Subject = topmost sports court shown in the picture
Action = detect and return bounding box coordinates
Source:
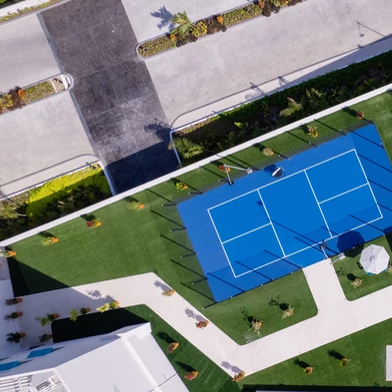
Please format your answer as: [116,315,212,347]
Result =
[177,123,392,302]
